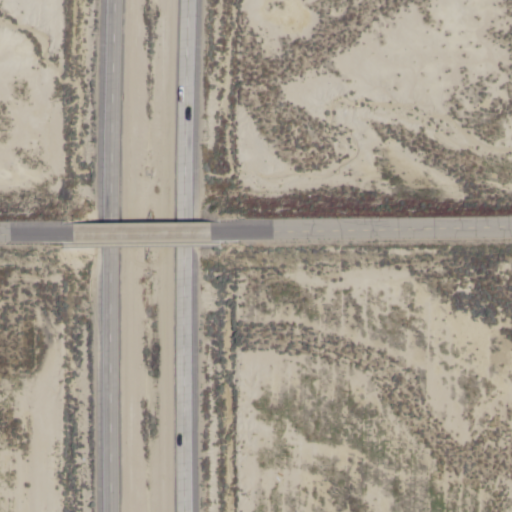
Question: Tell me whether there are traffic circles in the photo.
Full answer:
No, there's no traffic circle here.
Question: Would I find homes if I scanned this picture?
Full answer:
No, the frame has no home in it.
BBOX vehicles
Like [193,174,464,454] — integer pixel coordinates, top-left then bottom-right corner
[186,108,191,119]
[180,88,184,100]
[177,434,182,446]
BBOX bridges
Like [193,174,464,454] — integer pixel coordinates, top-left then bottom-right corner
[58,222,227,248]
